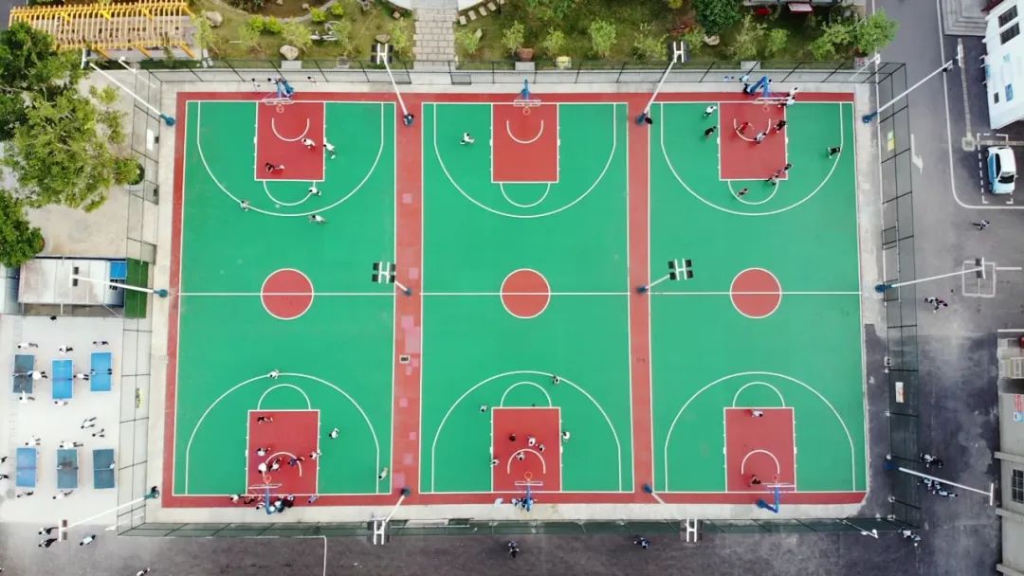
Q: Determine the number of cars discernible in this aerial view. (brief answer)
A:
one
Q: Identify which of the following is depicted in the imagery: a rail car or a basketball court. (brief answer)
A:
basketball court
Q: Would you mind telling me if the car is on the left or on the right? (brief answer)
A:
right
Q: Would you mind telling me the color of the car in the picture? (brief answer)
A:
white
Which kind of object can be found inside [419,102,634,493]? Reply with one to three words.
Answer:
basketball court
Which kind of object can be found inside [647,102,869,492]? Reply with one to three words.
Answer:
basketball court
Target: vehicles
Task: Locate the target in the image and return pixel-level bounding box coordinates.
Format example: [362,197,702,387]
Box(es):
[986,145,1022,193]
